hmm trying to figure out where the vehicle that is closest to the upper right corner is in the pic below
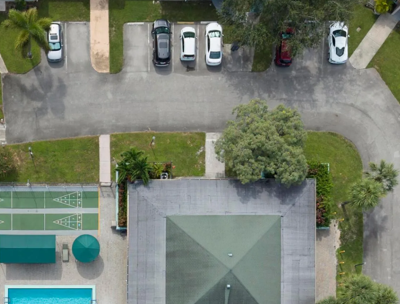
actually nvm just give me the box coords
[327,23,349,65]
